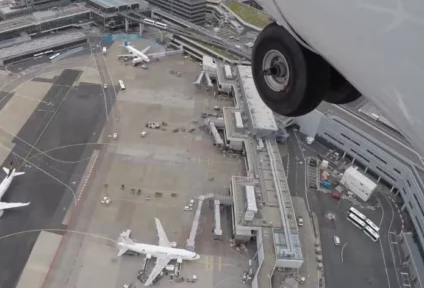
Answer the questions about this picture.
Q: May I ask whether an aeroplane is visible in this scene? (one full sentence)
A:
Yes, the frame does contain an aeroplane.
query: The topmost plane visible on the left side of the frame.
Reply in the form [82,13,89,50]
[115,36,150,62]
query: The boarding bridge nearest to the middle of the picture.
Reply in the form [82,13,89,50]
[206,120,225,149]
